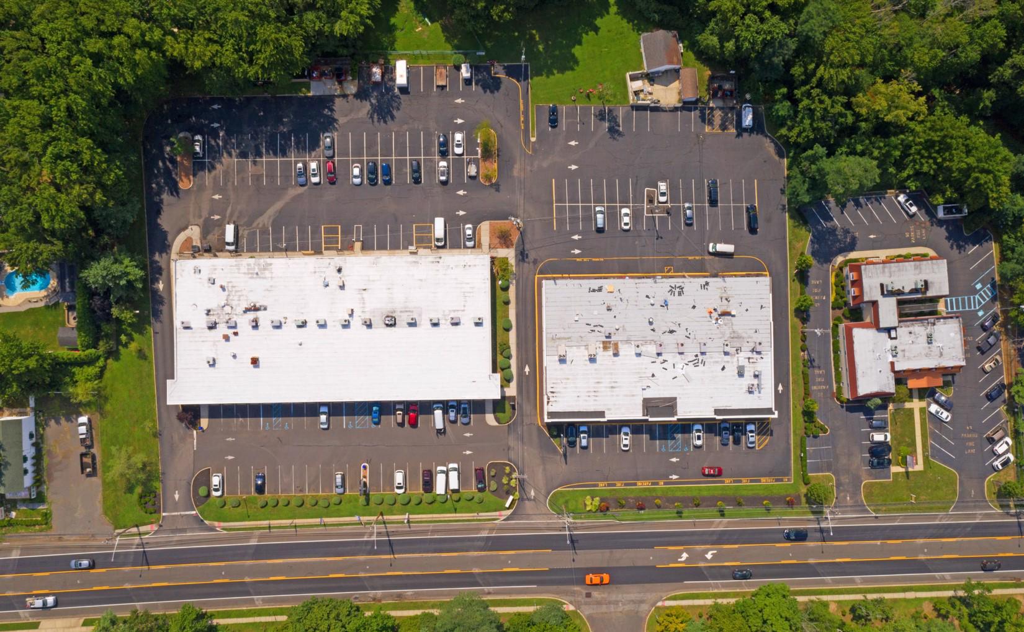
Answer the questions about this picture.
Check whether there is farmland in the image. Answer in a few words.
No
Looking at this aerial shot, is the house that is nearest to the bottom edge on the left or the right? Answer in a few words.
left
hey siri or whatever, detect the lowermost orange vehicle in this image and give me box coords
[585,573,610,585]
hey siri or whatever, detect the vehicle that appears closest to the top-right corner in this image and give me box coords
[896,193,917,217]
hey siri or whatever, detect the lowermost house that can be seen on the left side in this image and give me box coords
[0,416,40,499]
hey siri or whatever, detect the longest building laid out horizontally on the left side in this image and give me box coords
[166,254,502,405]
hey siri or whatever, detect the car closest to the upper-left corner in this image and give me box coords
[192,134,205,158]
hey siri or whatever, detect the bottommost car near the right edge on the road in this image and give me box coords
[978,559,1000,571]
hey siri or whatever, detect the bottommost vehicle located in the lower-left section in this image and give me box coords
[26,594,59,609]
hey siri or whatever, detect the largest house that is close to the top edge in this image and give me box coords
[639,29,687,74]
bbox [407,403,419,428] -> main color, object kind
red vehicle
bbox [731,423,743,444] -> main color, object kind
black vehicle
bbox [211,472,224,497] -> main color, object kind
white vehicle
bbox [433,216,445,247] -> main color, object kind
white vehicle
